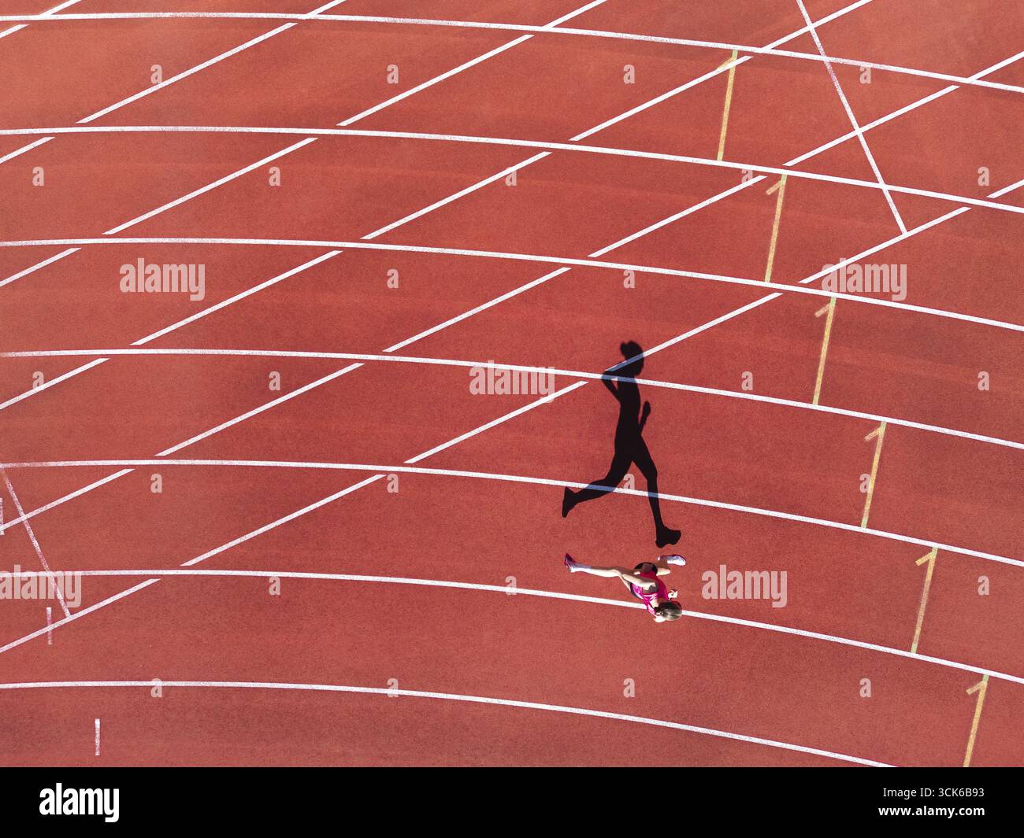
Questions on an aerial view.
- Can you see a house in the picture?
No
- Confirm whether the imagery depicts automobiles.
No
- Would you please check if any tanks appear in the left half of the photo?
No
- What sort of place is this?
sports ground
